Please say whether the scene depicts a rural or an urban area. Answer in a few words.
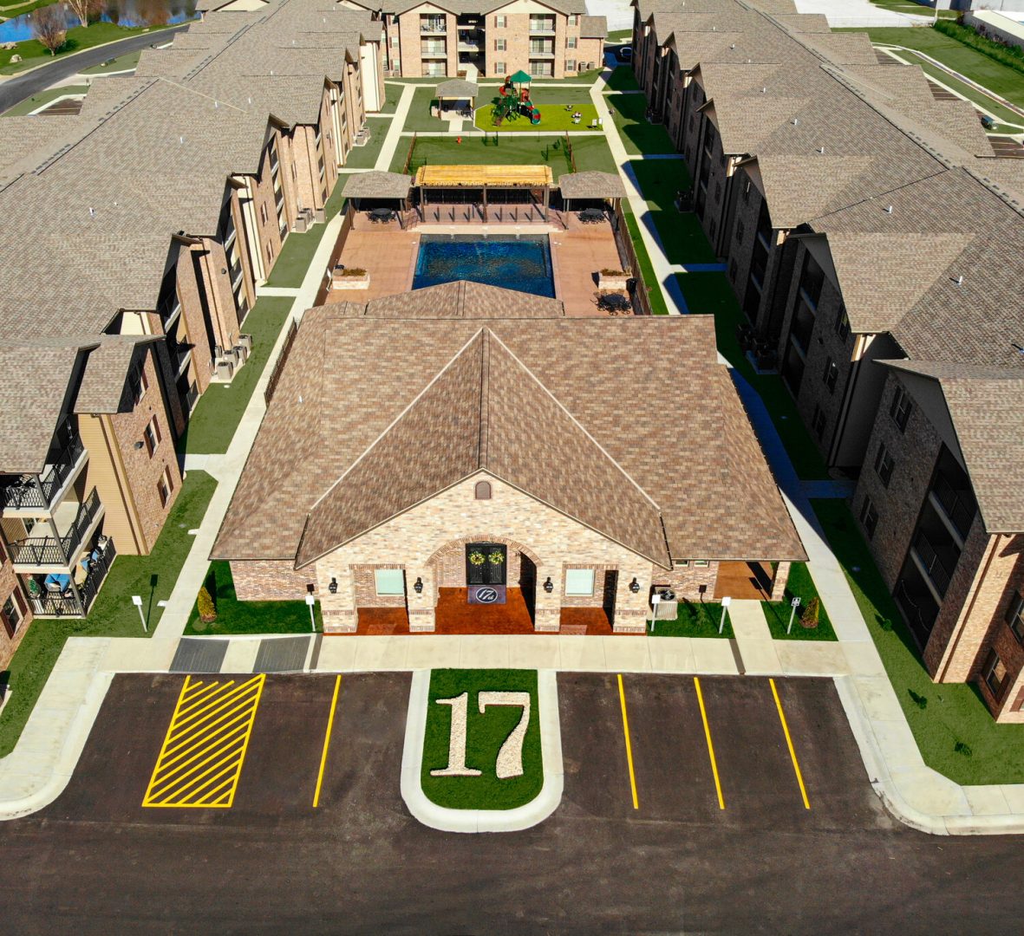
urban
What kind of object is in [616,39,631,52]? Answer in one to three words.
vehicle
